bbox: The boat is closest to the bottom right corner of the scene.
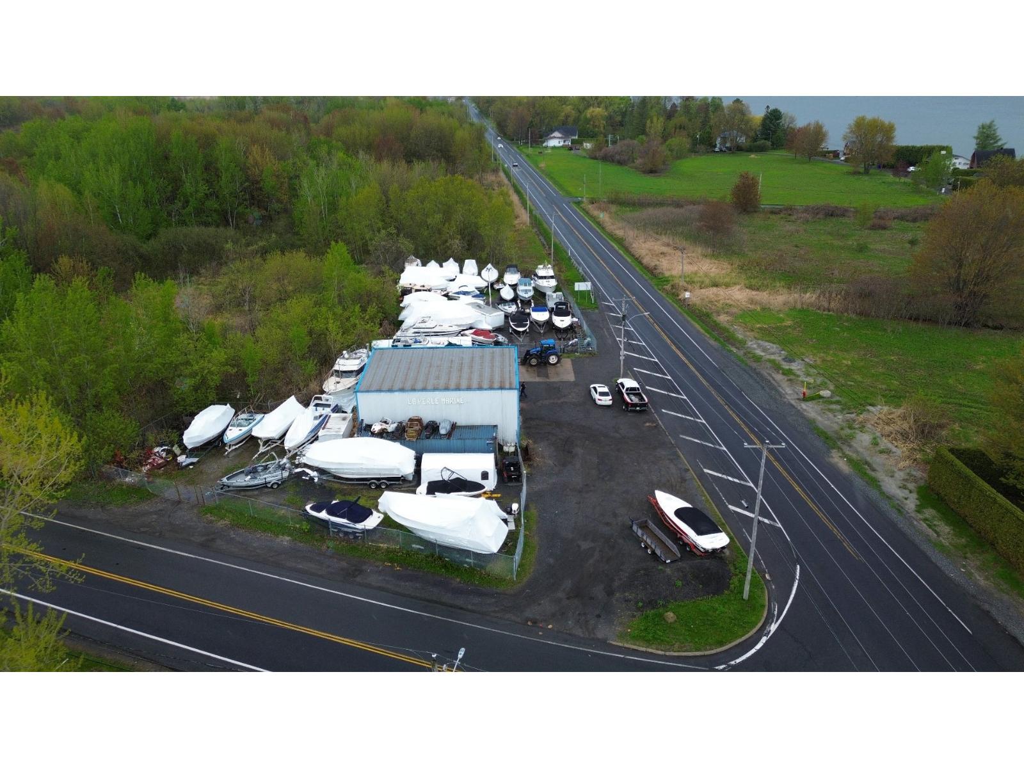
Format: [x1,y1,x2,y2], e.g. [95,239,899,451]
[655,491,731,562]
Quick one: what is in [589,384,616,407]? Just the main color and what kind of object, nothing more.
white car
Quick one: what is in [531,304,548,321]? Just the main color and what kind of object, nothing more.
white boat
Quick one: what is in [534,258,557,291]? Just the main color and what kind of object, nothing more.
white boat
